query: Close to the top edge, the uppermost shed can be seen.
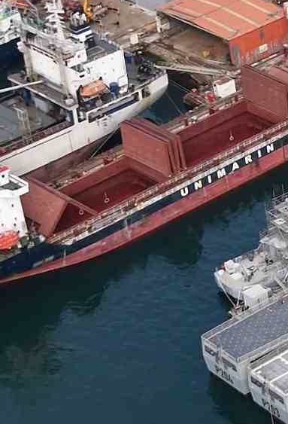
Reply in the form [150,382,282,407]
[163,0,288,71]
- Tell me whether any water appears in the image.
Yes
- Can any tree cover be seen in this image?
No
